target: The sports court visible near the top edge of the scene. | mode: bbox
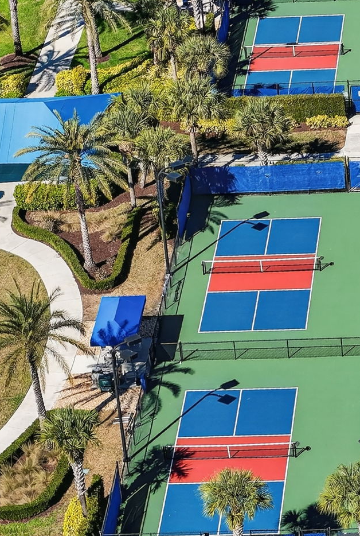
[244,15,344,92]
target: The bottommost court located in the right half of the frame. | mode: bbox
[157,388,298,536]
